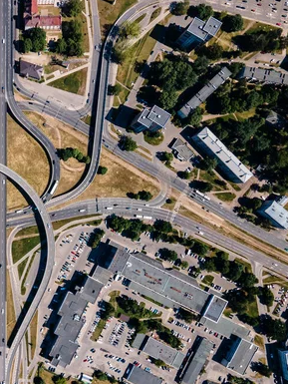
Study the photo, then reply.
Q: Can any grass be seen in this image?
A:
Yes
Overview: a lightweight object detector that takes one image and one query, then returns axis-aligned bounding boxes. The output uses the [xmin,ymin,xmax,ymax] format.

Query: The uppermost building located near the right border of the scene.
[235,66,288,89]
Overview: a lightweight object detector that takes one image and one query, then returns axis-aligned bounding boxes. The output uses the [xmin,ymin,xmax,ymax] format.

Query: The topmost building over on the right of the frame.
[176,16,222,51]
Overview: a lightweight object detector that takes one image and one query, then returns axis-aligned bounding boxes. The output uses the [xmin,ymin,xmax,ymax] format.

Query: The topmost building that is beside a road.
[23,0,62,32]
